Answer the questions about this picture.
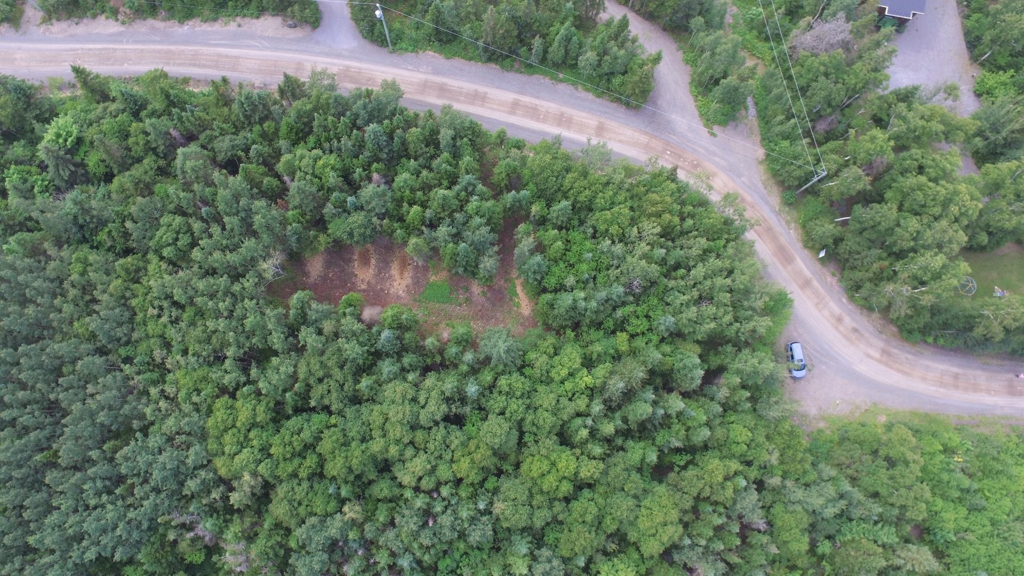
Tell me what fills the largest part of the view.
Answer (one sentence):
For the most part, this view shows trees.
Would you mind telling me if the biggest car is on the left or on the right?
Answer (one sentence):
The biggest car appears in the right half of the scene.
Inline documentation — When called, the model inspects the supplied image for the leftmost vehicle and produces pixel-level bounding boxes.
[785,343,808,381]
